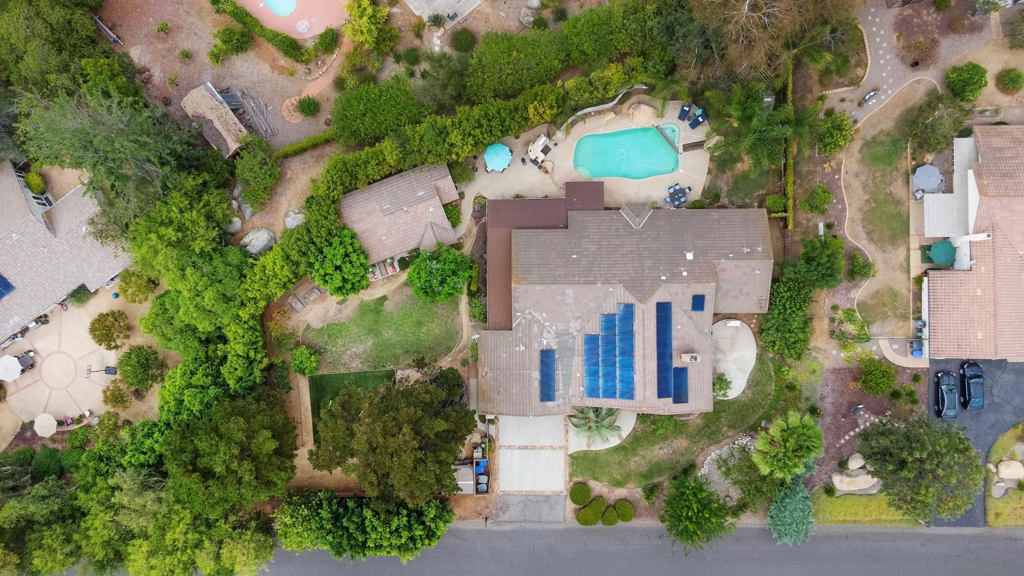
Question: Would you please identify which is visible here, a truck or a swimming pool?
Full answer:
The image shows a swimming pool.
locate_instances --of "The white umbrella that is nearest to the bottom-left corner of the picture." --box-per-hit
[30,414,61,438]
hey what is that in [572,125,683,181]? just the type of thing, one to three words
swimming pool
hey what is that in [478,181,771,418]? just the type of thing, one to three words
house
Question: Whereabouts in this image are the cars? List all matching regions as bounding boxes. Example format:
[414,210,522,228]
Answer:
[957,360,985,410]
[932,369,959,419]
